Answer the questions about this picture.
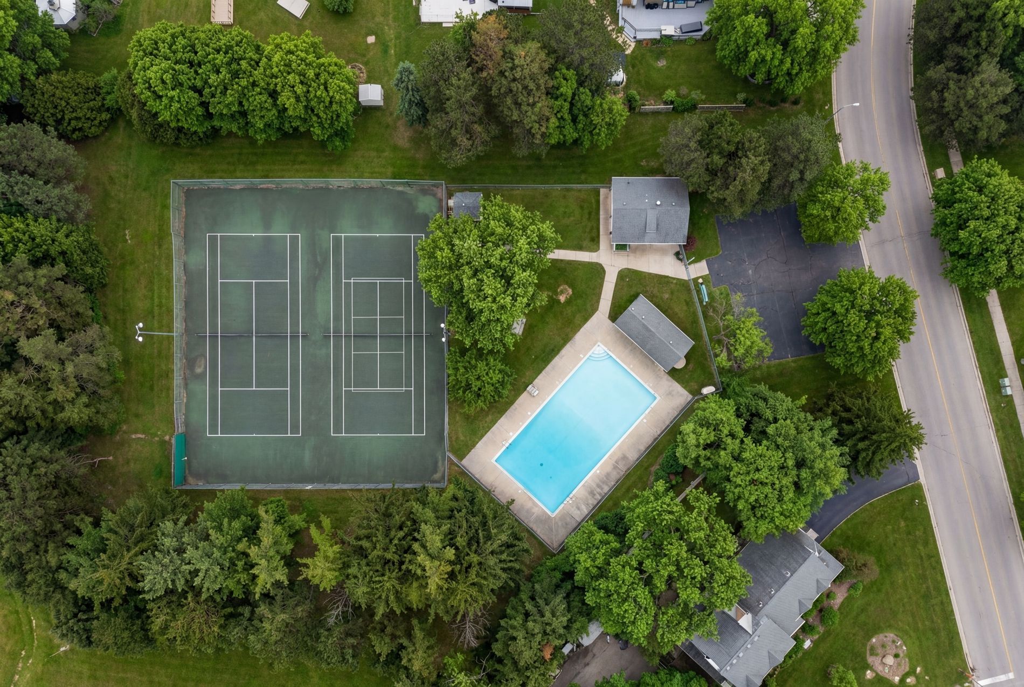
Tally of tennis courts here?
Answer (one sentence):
Altogether the scene contains 2 tennis courts.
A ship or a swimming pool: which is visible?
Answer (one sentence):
There is a swimming pool in the scene.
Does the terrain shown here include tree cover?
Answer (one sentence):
Yes, there is tree cover in the image.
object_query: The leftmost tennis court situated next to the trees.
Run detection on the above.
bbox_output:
[184,186,316,485]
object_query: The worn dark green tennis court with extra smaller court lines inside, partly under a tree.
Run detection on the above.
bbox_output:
[316,186,447,485]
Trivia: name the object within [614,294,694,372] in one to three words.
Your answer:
building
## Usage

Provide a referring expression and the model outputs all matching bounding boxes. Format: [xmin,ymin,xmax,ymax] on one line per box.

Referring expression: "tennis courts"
[316,186,447,485]
[184,186,316,485]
